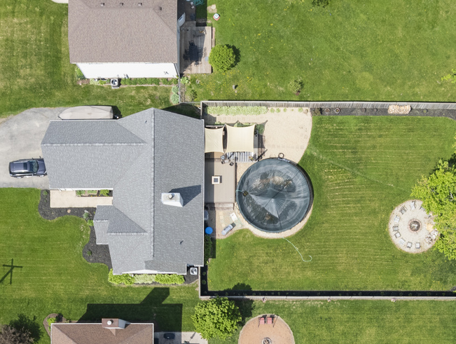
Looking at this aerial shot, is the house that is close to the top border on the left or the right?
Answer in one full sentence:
The house that is close to the top border sits on the left side.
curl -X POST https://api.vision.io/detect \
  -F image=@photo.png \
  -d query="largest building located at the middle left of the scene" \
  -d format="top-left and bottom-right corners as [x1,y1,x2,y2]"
[42,108,204,275]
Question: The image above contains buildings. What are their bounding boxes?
[51,315,156,344]
[67,0,178,77]
[42,108,204,275]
